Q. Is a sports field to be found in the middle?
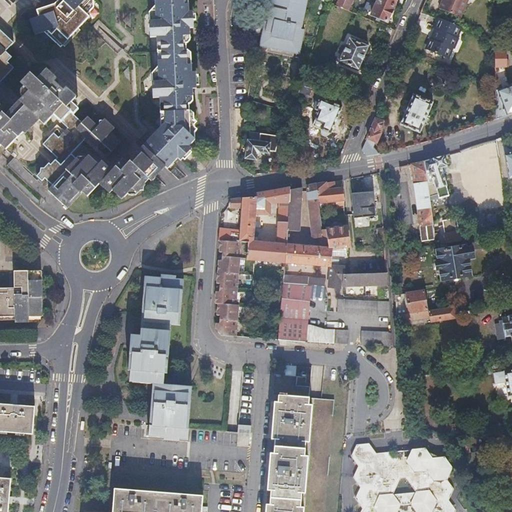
No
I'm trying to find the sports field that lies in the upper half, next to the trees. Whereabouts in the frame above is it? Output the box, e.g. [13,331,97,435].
[449,140,508,212]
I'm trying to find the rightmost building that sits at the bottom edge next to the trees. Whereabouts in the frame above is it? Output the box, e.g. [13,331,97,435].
[350,443,456,512]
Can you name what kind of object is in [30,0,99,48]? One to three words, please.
building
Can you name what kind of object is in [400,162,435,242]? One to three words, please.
house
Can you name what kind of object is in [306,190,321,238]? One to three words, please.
barn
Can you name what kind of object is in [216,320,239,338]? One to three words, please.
house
